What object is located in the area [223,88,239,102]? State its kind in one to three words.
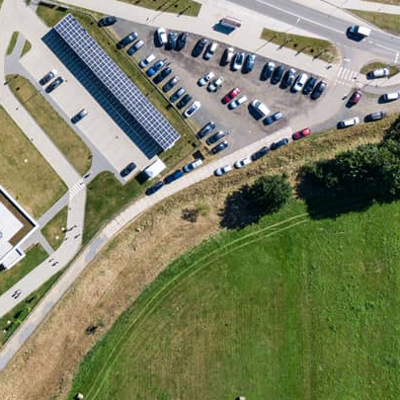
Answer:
car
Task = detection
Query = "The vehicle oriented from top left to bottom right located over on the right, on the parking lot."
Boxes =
[249,98,271,119]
